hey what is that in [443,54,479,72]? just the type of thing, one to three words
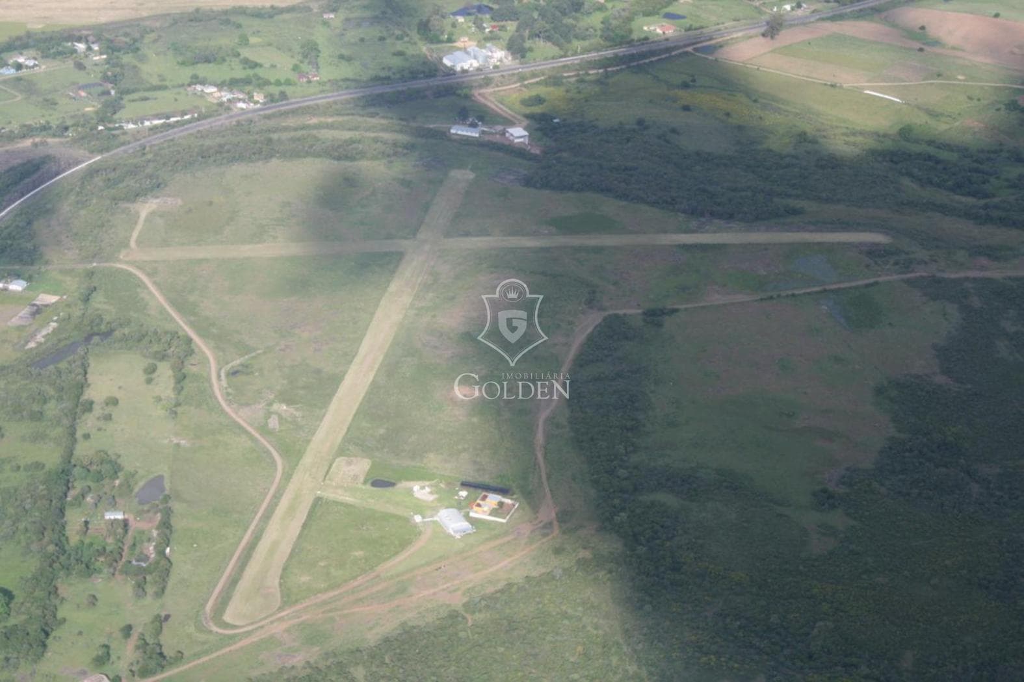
building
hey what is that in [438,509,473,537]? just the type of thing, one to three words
hangar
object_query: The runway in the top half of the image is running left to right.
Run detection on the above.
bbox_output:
[121,232,892,260]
